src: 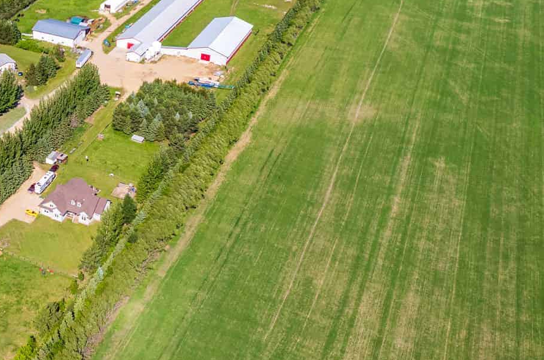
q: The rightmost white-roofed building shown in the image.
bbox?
[185,14,254,66]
